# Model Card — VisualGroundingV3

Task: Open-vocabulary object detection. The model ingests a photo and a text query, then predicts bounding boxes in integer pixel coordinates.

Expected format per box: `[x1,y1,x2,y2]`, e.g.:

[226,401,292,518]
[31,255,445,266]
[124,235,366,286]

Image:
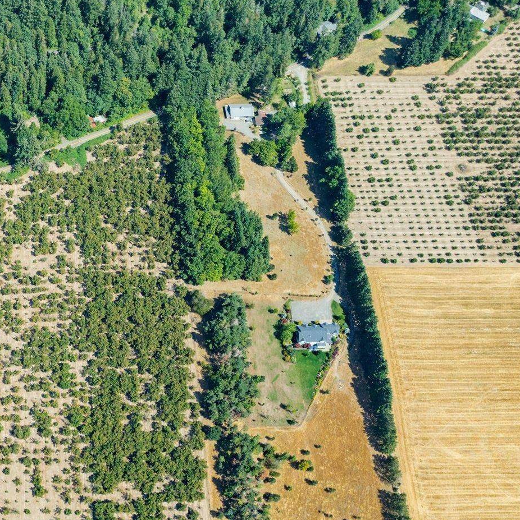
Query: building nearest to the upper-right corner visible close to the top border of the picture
[466,0,492,26]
